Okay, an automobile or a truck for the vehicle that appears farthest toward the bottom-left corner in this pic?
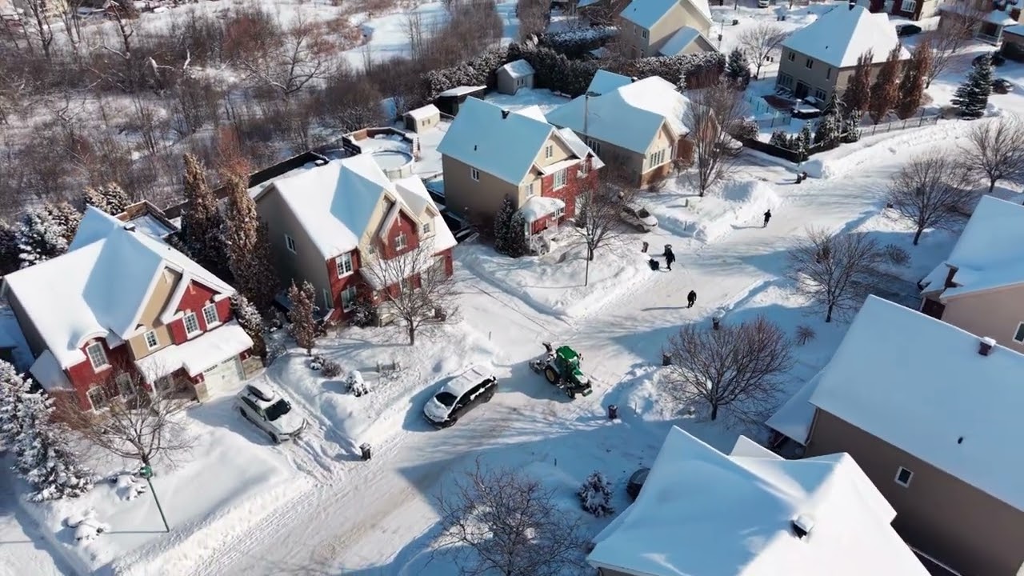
automobile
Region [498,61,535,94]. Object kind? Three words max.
shed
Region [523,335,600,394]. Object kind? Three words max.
work vehicle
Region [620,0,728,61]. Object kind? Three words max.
house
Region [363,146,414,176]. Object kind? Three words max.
swimming pool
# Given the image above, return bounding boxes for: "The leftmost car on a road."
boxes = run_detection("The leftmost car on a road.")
[239,382,302,440]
